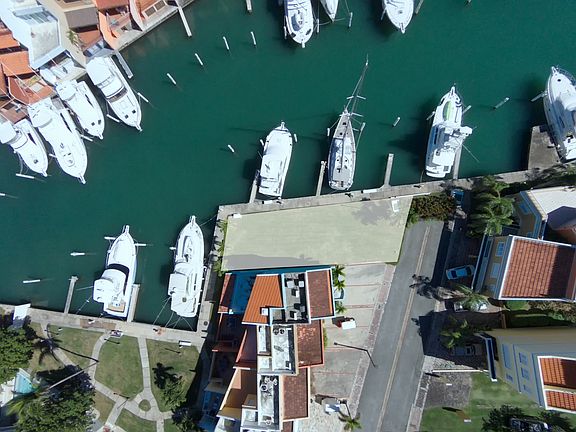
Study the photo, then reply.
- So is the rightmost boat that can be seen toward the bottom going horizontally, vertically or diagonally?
vertically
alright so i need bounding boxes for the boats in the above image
[24,93,88,184]
[76,226,139,322]
[320,0,338,22]
[284,0,317,48]
[152,214,217,328]
[328,58,375,196]
[50,76,104,137]
[419,87,476,184]
[84,48,141,128]
[0,117,51,176]
[378,0,411,32]
[256,122,294,200]
[538,68,576,168]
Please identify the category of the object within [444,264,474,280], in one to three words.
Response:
car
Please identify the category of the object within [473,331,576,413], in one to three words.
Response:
house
